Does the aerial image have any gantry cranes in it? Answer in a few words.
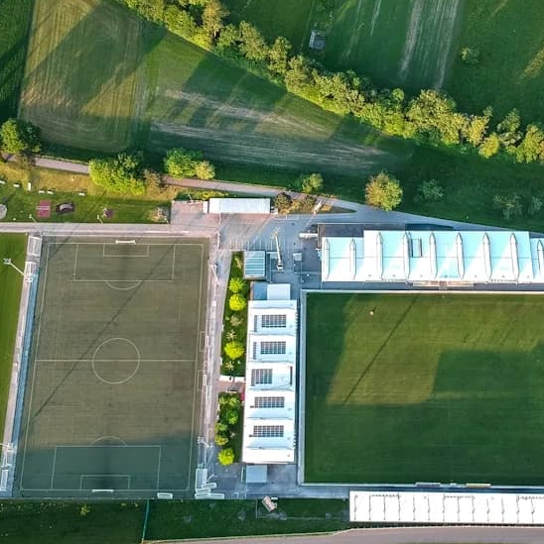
No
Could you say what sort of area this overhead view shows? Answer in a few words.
sports ground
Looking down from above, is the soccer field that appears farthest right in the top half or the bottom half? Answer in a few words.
bottom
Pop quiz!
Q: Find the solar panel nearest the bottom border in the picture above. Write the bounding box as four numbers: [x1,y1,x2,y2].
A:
[253,423,285,436]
